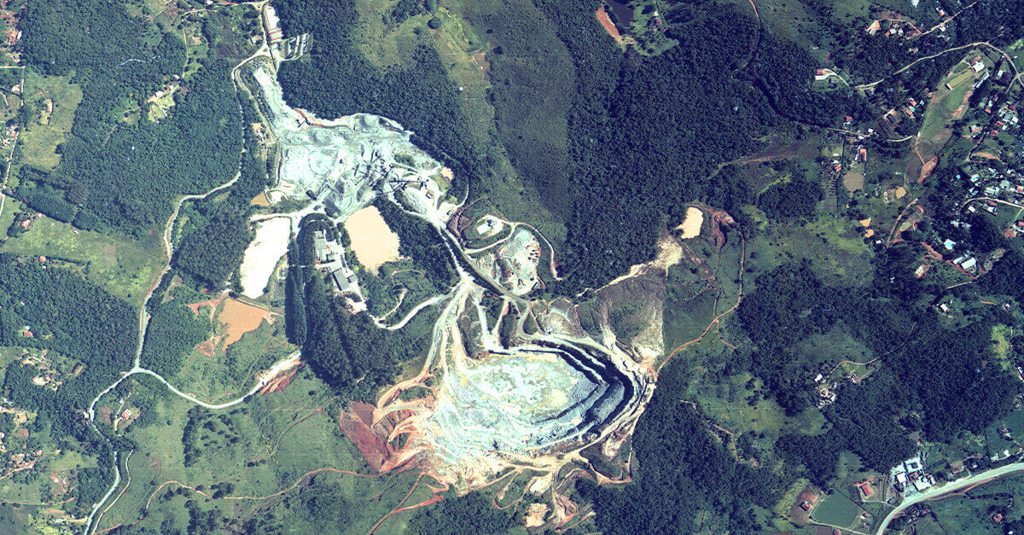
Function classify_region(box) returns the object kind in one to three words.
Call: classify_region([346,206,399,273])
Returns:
pond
